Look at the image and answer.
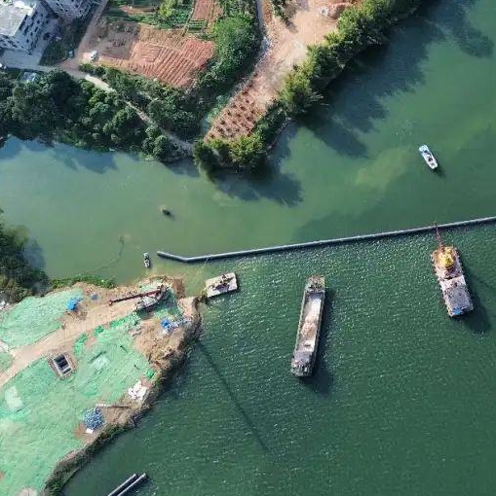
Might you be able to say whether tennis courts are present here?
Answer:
No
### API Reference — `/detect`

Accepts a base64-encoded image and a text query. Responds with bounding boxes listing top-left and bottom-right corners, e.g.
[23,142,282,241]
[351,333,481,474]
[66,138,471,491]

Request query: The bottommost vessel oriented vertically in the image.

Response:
[289,277,328,377]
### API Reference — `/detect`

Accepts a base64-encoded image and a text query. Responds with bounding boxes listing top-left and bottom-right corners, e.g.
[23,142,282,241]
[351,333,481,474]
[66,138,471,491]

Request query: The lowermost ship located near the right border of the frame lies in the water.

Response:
[432,223,473,317]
